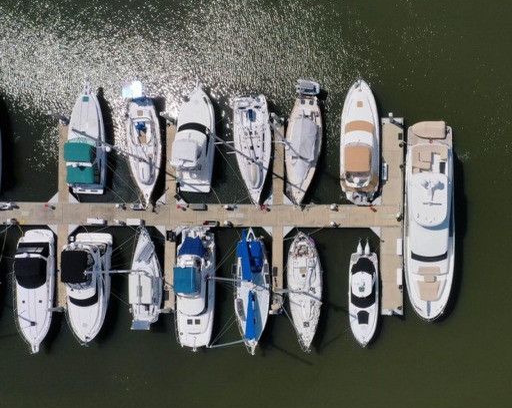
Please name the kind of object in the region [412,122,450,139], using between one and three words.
boat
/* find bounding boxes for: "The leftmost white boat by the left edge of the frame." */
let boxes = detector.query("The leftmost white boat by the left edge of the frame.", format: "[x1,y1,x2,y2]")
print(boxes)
[2,222,63,353]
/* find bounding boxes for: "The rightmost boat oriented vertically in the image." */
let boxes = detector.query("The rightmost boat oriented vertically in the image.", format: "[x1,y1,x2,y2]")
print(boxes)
[401,126,455,320]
